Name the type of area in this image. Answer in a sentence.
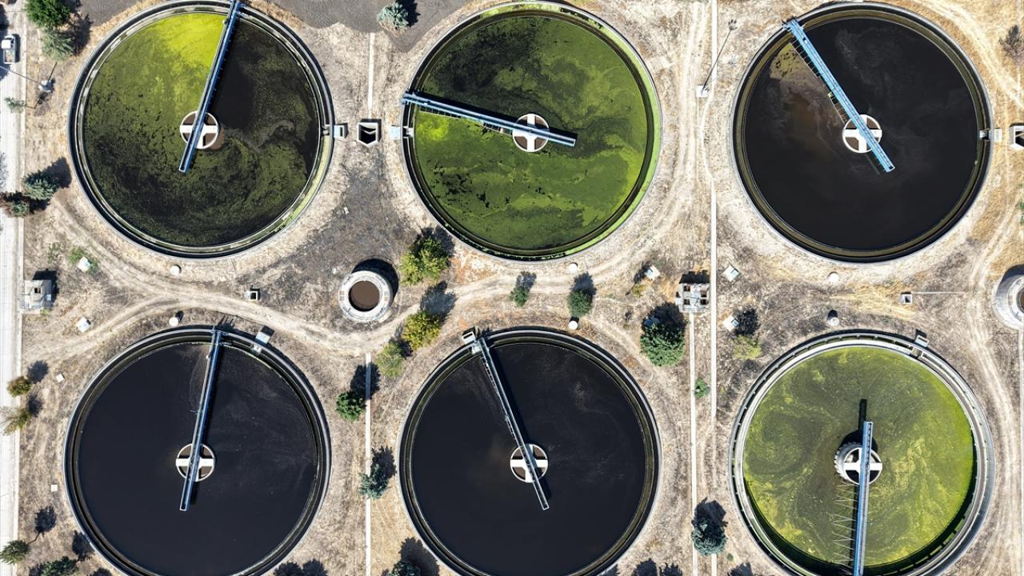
The picture captures an industrial area.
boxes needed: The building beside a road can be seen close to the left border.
[15,281,60,316]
